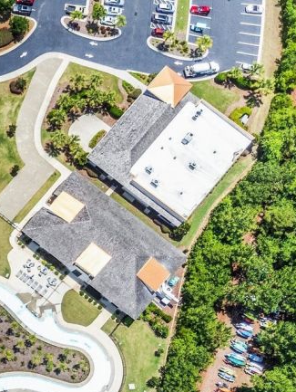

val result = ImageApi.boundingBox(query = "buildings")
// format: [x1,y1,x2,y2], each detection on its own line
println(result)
[21,170,186,319]
[85,65,256,226]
